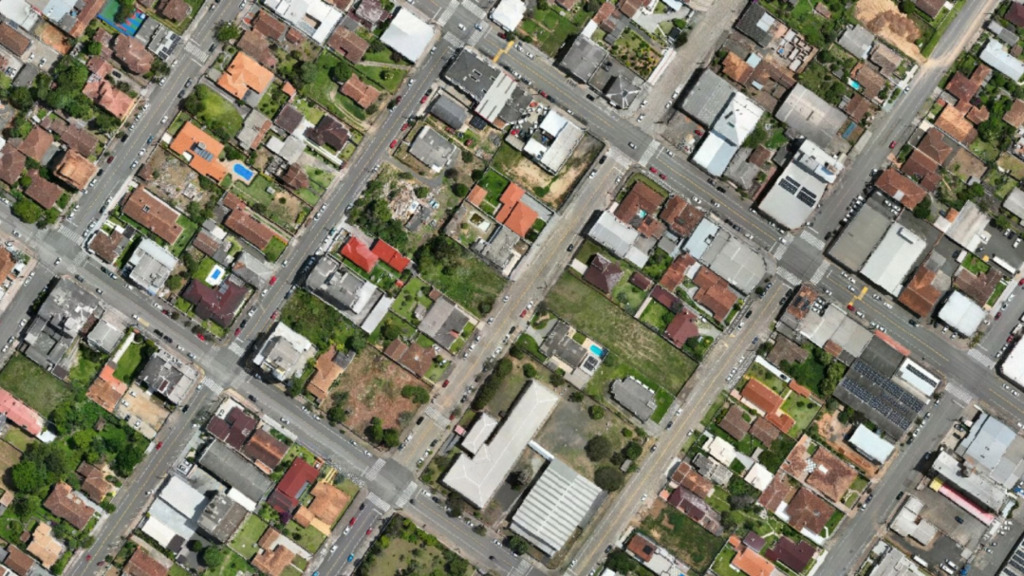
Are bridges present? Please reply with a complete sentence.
No, the frame has no bridge in it.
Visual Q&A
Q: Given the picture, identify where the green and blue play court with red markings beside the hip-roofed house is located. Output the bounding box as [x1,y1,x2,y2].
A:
[97,0,147,37]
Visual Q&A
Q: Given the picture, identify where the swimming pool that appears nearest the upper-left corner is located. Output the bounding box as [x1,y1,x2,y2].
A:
[233,163,253,181]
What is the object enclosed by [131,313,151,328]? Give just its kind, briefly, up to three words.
vehicle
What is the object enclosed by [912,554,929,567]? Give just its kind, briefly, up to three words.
vehicle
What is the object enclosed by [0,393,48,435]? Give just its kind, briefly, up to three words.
house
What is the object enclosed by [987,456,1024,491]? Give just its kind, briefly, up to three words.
building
